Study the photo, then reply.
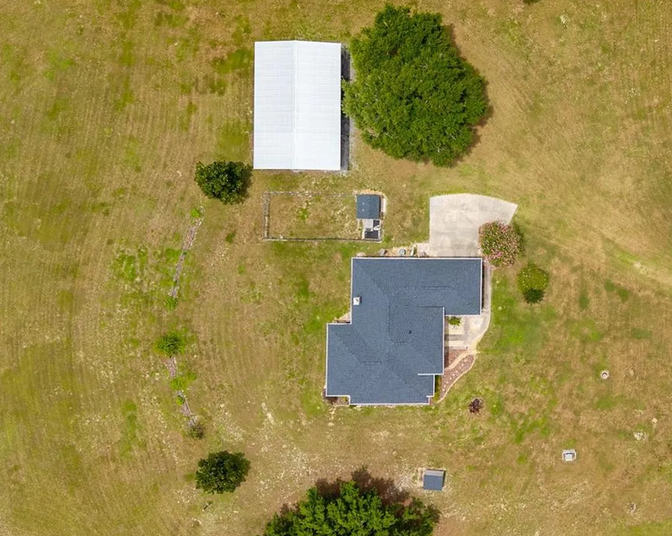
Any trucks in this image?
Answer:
No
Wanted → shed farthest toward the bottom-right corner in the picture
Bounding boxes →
[423,470,444,490]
